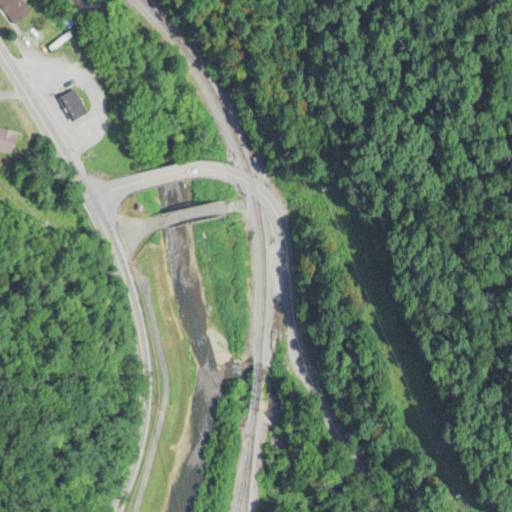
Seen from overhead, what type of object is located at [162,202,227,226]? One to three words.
bridge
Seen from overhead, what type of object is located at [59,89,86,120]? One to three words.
building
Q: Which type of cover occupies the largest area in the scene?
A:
trees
